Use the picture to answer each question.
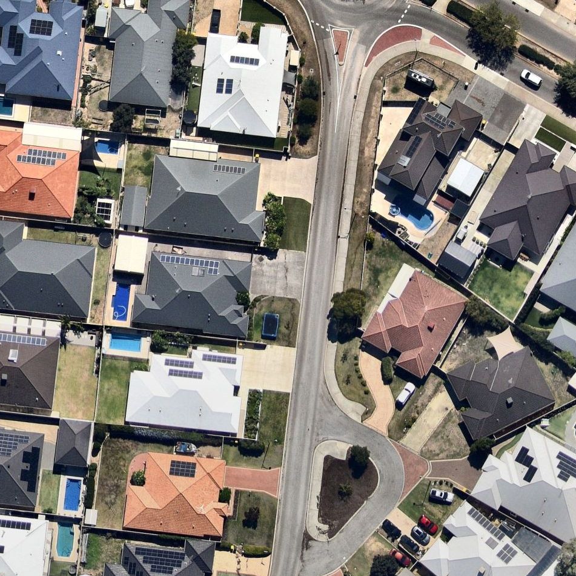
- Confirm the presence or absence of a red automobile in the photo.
Yes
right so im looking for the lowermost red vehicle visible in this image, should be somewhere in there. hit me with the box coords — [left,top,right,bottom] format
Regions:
[391,548,410,567]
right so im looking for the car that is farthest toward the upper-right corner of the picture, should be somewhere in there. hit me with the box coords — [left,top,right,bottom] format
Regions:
[519,70,543,87]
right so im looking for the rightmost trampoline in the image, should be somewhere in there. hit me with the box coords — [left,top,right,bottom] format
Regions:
[261,312,277,337]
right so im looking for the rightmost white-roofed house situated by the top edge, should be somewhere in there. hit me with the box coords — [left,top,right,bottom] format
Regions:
[197,26,287,137]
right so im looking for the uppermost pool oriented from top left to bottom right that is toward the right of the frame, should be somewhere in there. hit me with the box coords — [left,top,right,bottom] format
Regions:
[389,183,433,227]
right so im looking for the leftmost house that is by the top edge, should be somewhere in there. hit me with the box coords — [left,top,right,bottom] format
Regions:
[0,0,83,100]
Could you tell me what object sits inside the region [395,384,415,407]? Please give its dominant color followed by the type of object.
white car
